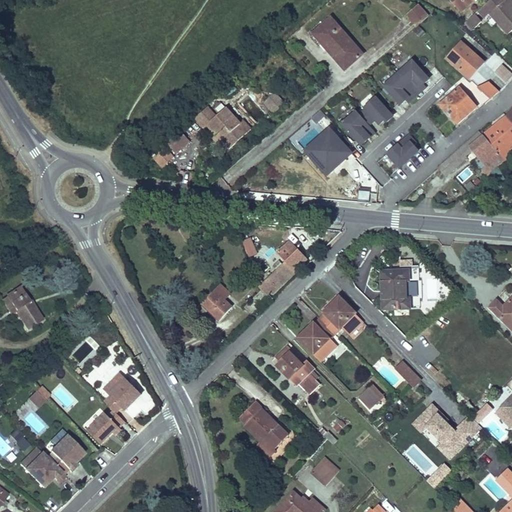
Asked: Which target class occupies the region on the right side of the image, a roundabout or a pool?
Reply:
pool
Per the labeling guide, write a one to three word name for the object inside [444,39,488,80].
house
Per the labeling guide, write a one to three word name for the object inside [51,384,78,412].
swimming pool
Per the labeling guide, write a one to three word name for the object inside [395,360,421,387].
building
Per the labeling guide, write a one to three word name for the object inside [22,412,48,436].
swimming pool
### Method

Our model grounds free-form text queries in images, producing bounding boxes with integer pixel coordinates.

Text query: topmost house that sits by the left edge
[4,285,45,330]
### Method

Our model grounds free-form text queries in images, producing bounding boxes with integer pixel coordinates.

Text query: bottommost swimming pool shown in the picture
[479,474,510,502]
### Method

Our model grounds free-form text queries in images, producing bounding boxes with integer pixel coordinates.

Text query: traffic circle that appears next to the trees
[42,156,112,226]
